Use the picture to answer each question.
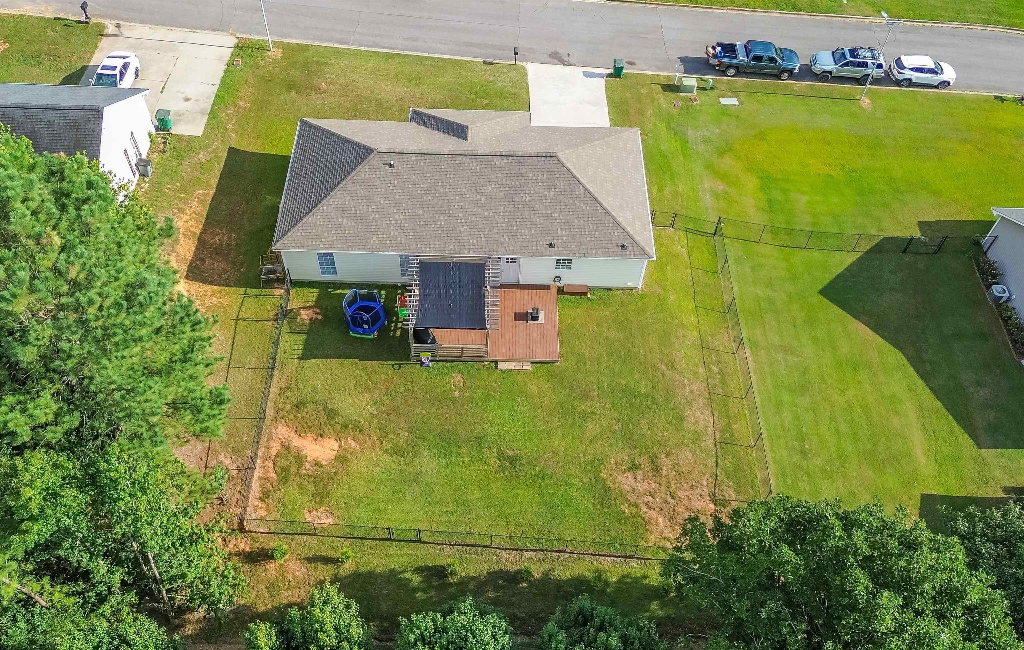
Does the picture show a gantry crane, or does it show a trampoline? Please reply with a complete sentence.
It is a trampoline that can be seen here.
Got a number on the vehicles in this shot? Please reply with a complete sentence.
In total, 4 vehicles can be seen.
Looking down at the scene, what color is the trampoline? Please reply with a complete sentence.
The trampoline is blue.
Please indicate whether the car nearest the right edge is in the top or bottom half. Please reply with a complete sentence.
It is in the top half that the car nearest the right edge appears.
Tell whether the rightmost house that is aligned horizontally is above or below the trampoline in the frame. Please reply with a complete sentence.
You can see the rightmost house that is aligned horizontally above the trampoline in the frame.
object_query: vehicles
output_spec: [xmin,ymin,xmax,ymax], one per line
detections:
[706,42,802,81]
[91,51,138,88]
[808,46,884,85]
[886,54,956,89]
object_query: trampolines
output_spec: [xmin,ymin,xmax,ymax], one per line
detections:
[344,290,388,340]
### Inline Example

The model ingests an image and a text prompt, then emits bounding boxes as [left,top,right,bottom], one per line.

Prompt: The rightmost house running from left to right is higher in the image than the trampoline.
[270,107,656,290]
